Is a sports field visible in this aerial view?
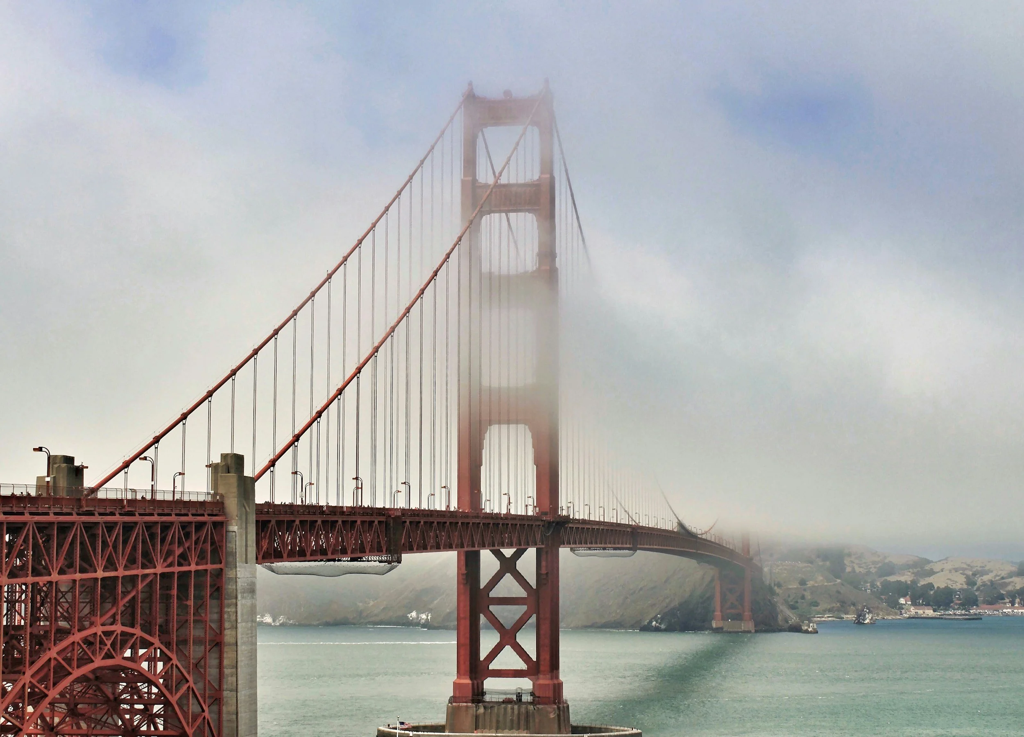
No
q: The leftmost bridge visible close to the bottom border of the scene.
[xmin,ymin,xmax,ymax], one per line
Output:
[0,495,228,737]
